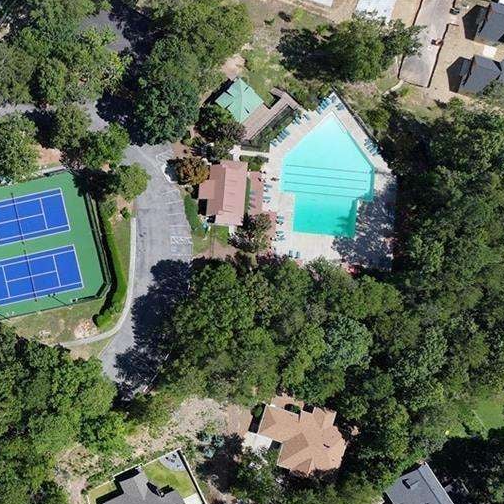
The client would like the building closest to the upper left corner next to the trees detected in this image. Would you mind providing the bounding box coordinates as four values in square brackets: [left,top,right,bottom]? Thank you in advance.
[215,78,263,122]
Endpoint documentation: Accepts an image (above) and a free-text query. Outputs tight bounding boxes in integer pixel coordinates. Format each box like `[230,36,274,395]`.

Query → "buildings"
[197,160,248,227]
[455,55,501,96]
[215,78,263,122]
[256,405,346,476]
[104,466,184,504]
[382,464,453,504]
[470,2,504,44]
